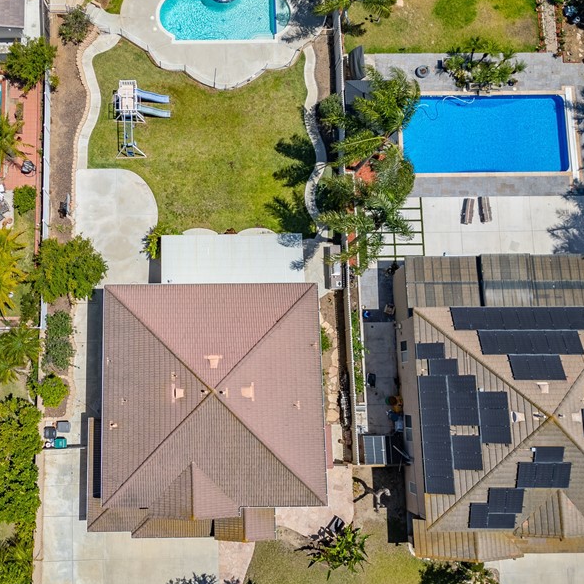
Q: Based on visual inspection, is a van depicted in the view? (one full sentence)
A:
No, I can see no van in this picture.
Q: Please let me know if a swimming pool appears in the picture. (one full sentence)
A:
Yes, there's a swimming pool here.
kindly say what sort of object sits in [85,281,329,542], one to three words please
house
